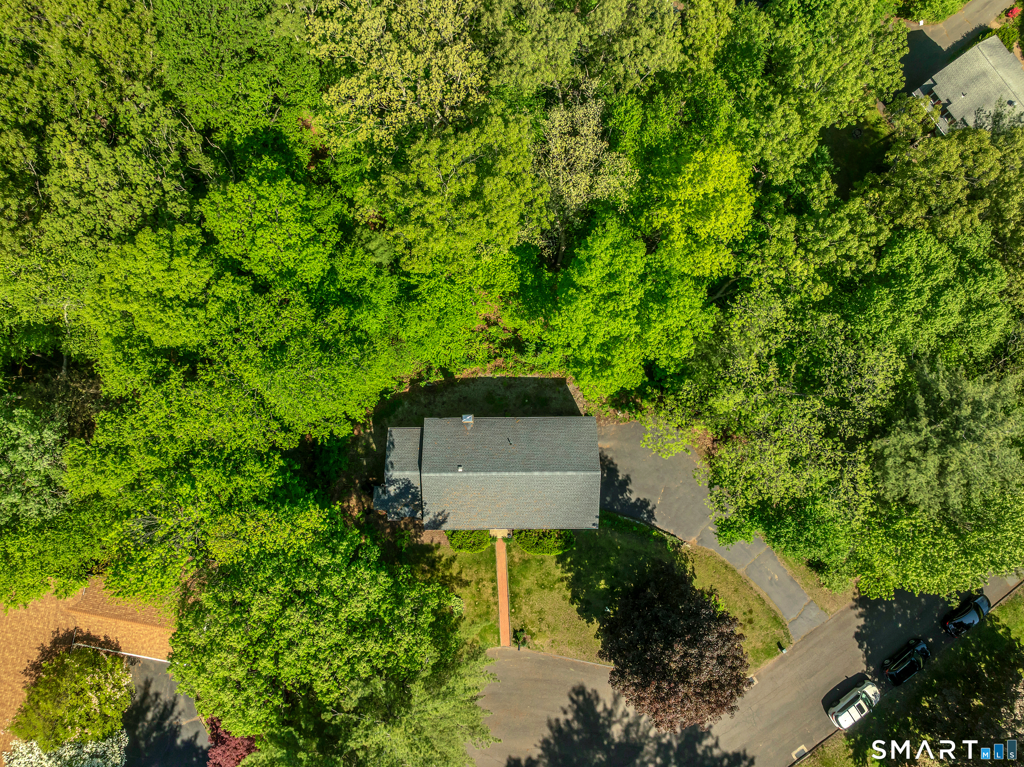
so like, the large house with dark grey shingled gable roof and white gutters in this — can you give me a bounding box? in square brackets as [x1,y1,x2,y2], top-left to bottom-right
[372,414,602,530]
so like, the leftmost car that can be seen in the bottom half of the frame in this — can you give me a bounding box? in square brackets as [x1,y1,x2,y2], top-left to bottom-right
[829,680,880,731]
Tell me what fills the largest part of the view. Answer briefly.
trees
